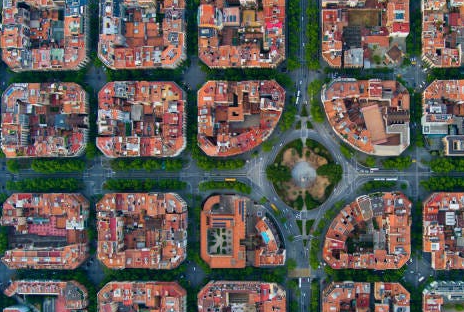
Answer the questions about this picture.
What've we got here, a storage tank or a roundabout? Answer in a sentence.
I can see a roundabout in this picture.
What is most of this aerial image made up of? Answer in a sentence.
What you mostly see from above here is buildings.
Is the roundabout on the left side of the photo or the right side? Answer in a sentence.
The roundabout is on the right side of the image.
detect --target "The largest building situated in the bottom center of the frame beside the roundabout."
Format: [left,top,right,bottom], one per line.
[202,194,247,267]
